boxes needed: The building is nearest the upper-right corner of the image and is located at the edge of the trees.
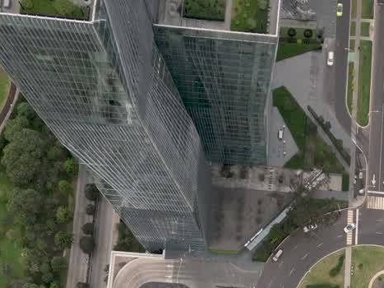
[157,0,280,166]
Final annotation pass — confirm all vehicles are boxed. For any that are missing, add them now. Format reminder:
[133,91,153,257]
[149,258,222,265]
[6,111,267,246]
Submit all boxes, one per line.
[302,223,317,233]
[336,3,343,16]
[342,222,357,233]
[273,249,283,261]
[328,51,334,65]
